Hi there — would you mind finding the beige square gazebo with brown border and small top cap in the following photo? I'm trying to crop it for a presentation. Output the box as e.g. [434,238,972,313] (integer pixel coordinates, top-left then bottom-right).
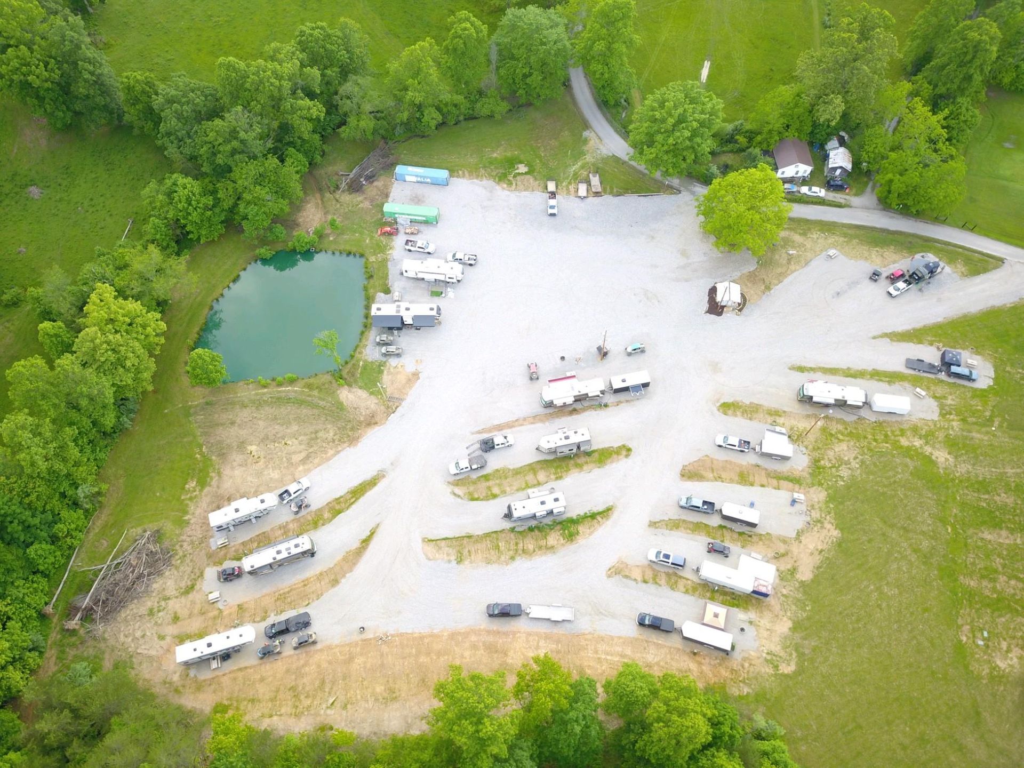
[703,603,727,631]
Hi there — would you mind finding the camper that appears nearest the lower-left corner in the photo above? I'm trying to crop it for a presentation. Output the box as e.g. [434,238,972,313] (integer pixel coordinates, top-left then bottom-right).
[175,626,259,667]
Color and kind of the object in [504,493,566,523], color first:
white trailer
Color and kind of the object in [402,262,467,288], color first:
white camper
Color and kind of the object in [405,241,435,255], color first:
white vehicle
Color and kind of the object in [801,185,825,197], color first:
white vehicle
